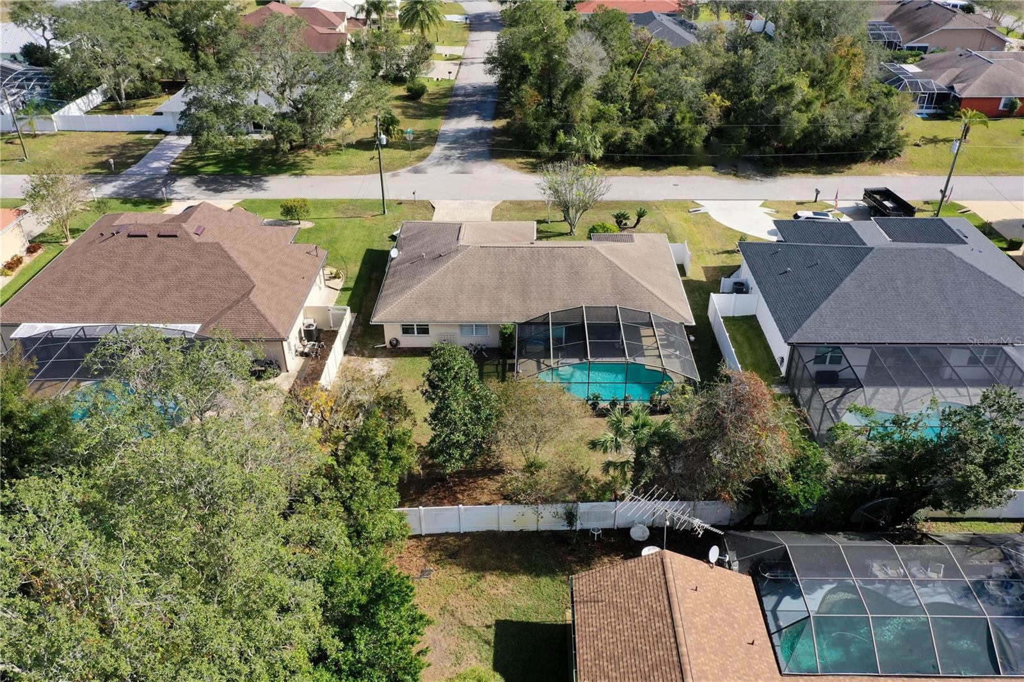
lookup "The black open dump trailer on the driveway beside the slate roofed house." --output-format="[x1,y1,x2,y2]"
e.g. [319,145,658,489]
[862,187,918,222]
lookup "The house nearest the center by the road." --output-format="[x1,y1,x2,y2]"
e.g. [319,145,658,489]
[363,220,695,357]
